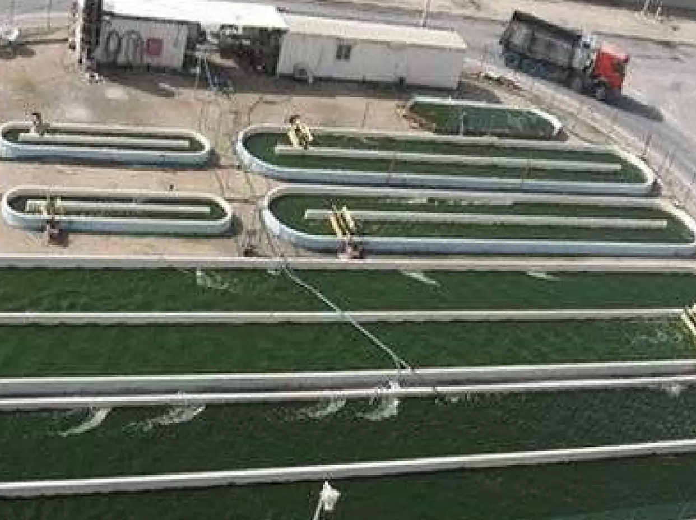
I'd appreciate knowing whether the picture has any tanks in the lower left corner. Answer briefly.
No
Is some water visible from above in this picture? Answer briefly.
Yes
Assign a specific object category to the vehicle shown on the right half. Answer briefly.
truck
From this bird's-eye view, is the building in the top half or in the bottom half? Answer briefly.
top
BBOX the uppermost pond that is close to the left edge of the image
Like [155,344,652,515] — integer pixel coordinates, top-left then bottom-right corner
[0,121,211,166]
